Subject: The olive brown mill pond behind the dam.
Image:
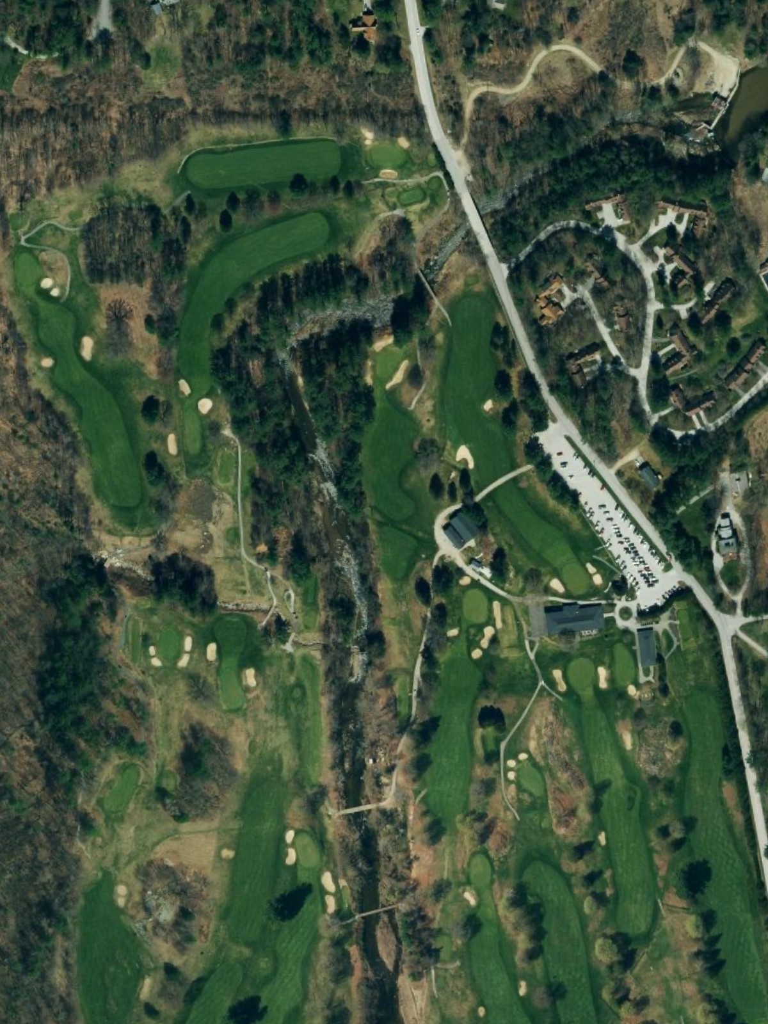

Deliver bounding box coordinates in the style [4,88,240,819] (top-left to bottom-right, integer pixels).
[713,62,768,156]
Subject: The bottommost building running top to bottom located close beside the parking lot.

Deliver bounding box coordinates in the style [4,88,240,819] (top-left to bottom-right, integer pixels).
[637,627,659,667]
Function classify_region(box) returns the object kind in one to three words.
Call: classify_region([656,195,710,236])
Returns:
house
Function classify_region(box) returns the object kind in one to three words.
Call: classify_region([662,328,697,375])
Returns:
house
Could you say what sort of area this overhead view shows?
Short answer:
golf course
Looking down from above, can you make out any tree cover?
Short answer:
Yes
